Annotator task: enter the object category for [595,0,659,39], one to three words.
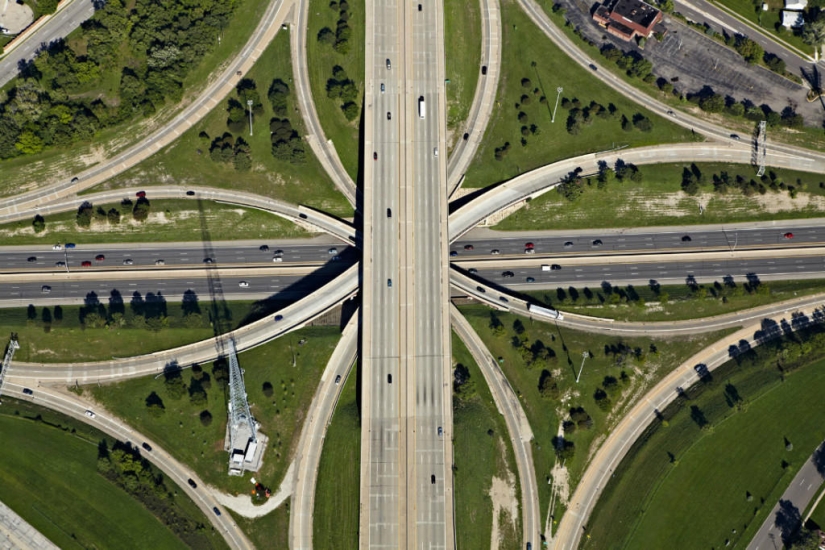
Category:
building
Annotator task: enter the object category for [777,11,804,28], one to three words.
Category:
house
